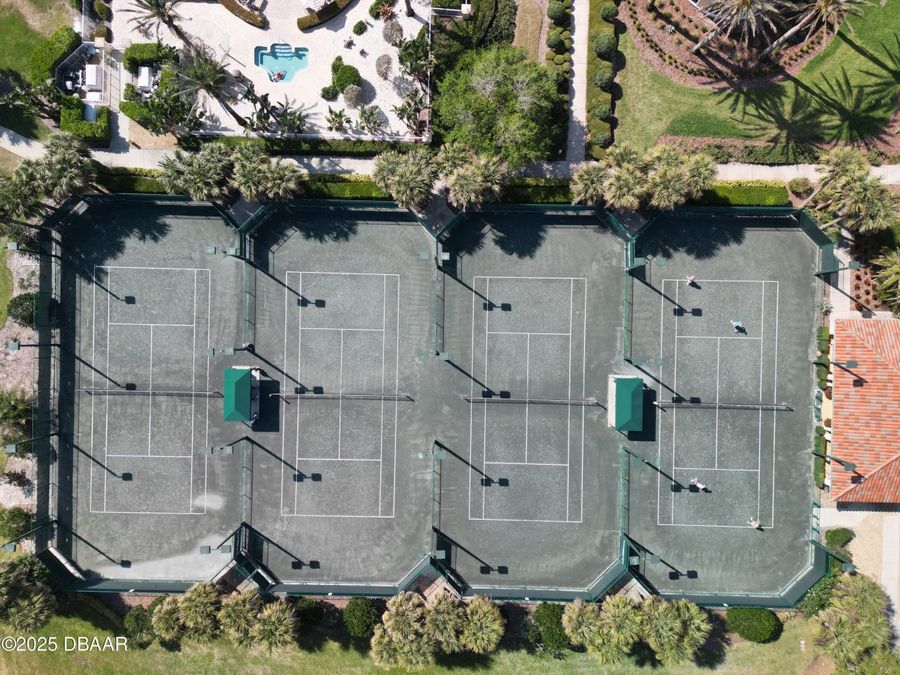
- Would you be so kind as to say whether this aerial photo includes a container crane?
No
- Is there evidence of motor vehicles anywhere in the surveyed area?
No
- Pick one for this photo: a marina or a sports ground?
sports ground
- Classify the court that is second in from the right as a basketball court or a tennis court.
tennis court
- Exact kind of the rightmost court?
tennis court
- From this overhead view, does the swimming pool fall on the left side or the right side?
left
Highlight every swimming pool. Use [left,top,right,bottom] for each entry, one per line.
[251,37,311,84]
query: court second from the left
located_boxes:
[243,204,436,588]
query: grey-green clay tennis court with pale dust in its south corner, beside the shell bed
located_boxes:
[48,200,246,584]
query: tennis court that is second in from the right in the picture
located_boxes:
[433,208,627,592]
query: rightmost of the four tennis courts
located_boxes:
[621,212,824,599]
